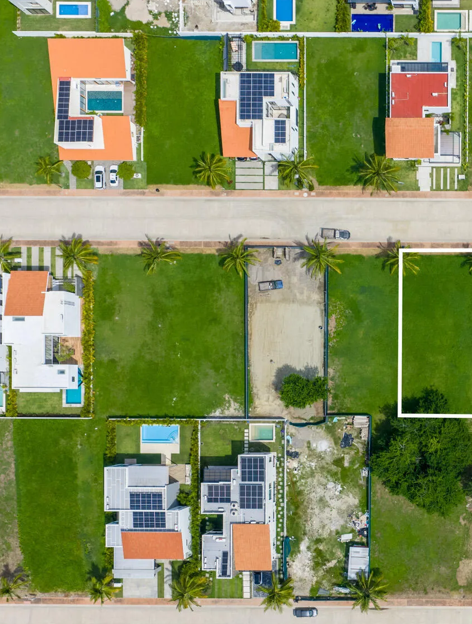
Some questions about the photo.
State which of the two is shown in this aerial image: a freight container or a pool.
pool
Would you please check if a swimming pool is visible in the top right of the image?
Yes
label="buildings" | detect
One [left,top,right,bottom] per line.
[432,0,461,15]
[9,0,52,15]
[3,271,86,393]
[347,544,370,579]
[48,39,141,164]
[104,464,192,577]
[219,72,301,166]
[201,452,277,578]
[218,0,259,20]
[384,63,461,167]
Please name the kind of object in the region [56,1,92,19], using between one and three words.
swimming pool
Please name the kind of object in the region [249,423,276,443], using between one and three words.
swimming pool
